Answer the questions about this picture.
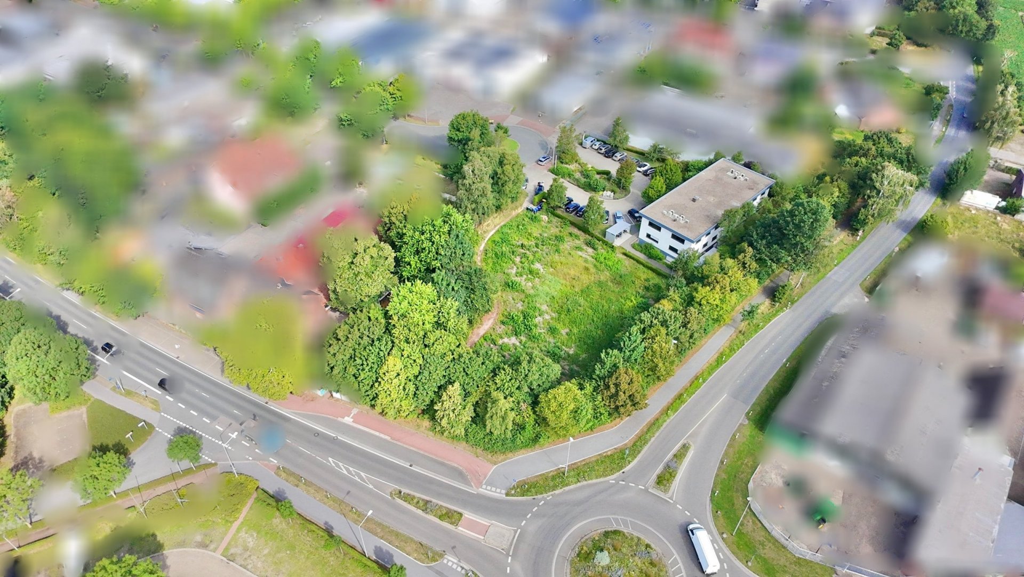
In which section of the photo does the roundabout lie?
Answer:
bottom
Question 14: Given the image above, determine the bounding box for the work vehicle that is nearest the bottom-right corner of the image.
[816,500,838,528]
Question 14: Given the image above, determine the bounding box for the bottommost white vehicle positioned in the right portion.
[689,526,720,577]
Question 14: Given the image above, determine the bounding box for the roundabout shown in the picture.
[464,466,758,577]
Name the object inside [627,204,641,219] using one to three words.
car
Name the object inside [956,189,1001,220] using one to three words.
trailer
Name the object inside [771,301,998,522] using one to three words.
barn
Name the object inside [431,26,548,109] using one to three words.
building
